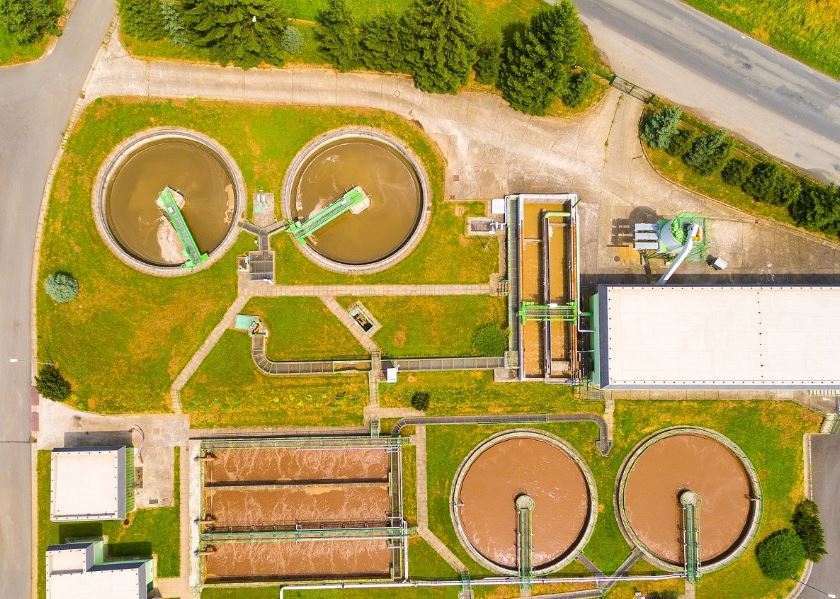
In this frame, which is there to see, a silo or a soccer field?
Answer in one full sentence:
The one in the frame is a silo.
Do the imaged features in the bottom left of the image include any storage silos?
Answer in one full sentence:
No, looking in the bottom left of the image, there is no storage silo.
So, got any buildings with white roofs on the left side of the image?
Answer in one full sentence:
Yes, the scene does show a building with a white roof on the left side of the image.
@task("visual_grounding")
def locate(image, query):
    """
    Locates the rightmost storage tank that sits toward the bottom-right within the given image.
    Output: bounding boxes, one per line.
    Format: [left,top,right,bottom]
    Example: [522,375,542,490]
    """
[611,424,760,574]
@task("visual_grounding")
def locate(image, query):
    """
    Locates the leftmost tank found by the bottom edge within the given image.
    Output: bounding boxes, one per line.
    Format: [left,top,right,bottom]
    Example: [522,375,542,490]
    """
[450,427,598,576]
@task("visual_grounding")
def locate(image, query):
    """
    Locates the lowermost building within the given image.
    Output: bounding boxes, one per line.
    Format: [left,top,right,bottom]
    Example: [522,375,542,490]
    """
[44,543,154,599]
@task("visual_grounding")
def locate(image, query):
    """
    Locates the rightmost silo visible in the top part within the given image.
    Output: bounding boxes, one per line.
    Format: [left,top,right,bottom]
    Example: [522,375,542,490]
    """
[645,208,715,267]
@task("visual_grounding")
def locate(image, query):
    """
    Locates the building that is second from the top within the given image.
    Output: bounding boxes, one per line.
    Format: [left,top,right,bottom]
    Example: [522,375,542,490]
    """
[50,446,135,521]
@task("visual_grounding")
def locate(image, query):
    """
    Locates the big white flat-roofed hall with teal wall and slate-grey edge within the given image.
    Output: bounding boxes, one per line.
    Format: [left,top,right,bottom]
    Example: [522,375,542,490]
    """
[590,286,840,389]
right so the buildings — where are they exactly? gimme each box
[590,286,840,389]
[44,543,154,599]
[50,446,135,521]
